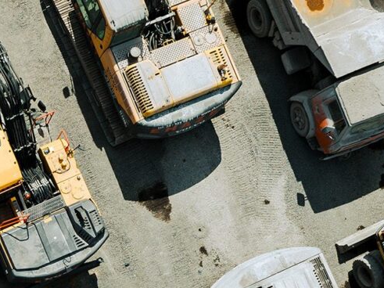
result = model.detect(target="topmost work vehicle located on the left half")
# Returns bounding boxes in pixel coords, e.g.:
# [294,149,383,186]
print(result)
[44,0,242,145]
